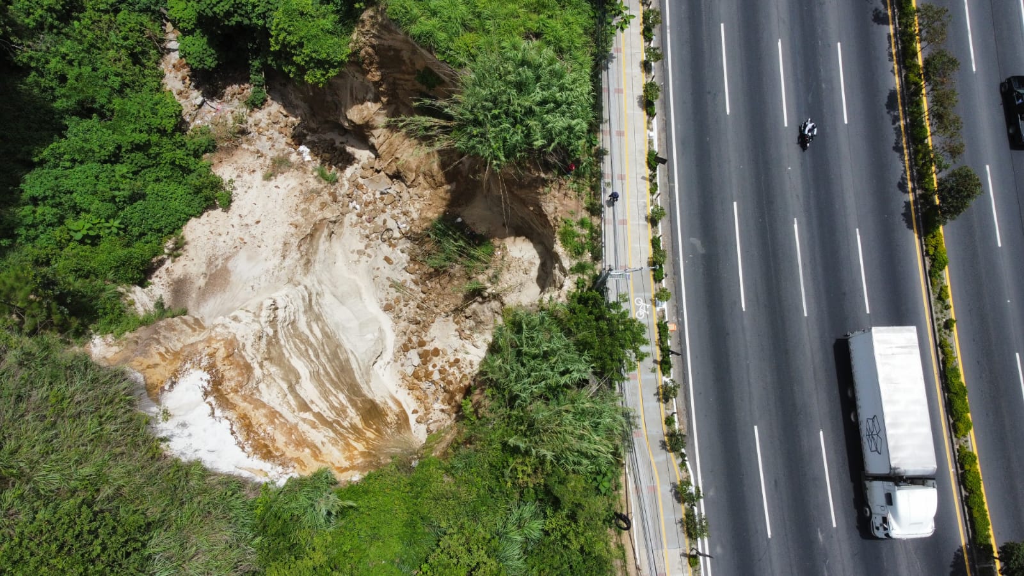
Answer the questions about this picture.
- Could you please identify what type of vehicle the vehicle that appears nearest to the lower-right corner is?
truck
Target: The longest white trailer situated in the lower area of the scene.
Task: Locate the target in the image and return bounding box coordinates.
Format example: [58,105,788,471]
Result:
[846,327,935,473]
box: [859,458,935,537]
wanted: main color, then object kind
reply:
white truck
